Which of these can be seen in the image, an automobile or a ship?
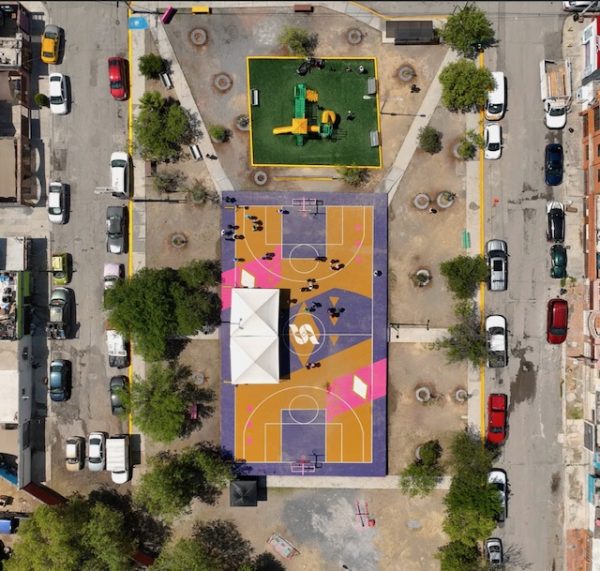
automobile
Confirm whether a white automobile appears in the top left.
Yes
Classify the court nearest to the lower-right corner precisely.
basketball court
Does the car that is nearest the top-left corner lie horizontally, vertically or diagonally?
vertically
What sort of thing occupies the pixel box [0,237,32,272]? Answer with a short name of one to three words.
house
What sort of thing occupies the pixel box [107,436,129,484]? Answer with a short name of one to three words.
truck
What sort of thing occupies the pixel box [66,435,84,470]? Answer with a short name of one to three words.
car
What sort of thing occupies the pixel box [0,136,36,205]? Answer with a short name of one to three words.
house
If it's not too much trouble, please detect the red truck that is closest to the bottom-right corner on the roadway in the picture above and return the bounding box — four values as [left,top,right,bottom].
[486,393,507,444]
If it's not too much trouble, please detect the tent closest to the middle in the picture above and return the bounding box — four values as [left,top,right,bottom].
[231,289,281,336]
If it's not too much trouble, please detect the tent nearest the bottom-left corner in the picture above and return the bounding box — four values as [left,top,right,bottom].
[230,476,259,507]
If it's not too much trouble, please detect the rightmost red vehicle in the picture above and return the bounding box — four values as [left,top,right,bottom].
[546,298,568,345]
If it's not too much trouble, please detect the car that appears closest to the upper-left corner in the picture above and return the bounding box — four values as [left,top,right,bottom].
[42,25,62,66]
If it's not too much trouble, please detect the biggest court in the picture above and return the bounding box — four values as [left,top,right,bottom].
[220,192,387,476]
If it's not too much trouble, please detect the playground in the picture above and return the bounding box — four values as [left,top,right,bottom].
[247,56,383,167]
